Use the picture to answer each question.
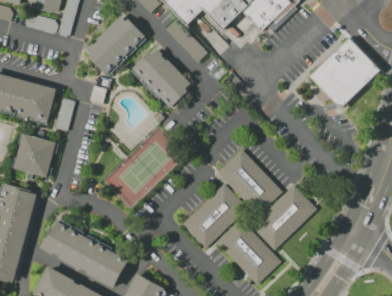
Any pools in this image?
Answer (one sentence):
Yes, I can see a pool in this picture.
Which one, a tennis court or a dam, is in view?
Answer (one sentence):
I can see a tennis court in this picture.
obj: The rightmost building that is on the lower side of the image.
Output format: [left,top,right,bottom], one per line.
[256,186,318,251]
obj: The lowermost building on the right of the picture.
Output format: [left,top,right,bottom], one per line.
[216,224,283,284]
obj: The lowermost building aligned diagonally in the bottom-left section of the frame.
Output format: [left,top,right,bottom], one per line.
[40,220,126,288]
